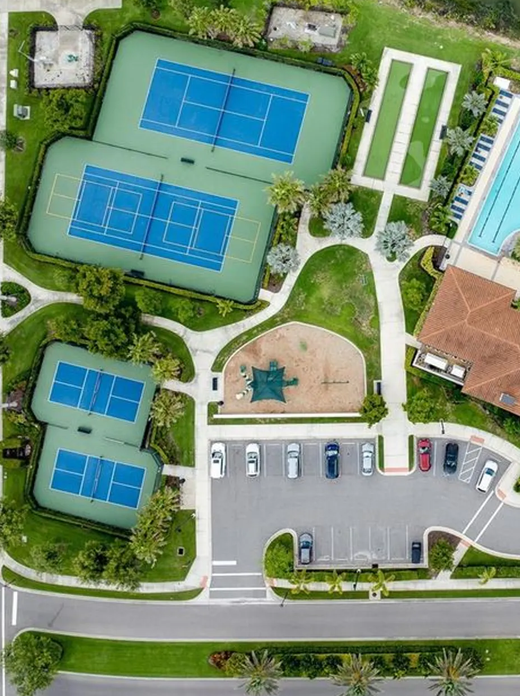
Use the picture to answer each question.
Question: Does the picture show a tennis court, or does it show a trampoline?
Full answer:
Visible in the photo is a tennis court.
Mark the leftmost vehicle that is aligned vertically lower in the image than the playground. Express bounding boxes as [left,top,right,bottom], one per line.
[209,442,227,478]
